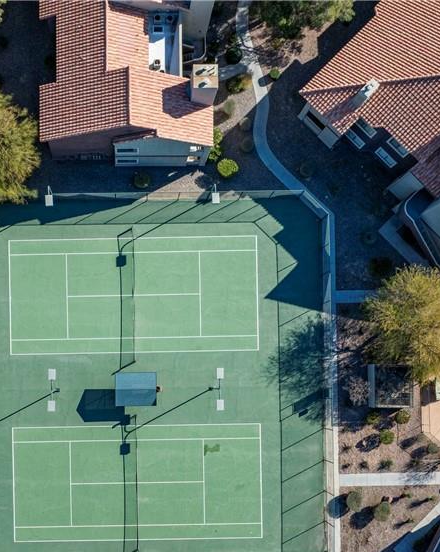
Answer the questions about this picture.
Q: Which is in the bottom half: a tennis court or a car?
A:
tennis court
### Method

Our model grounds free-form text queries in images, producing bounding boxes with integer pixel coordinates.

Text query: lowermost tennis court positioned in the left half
[12,424,263,543]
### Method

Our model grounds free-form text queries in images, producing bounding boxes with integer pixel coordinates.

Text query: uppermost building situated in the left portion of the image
[38,0,219,166]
